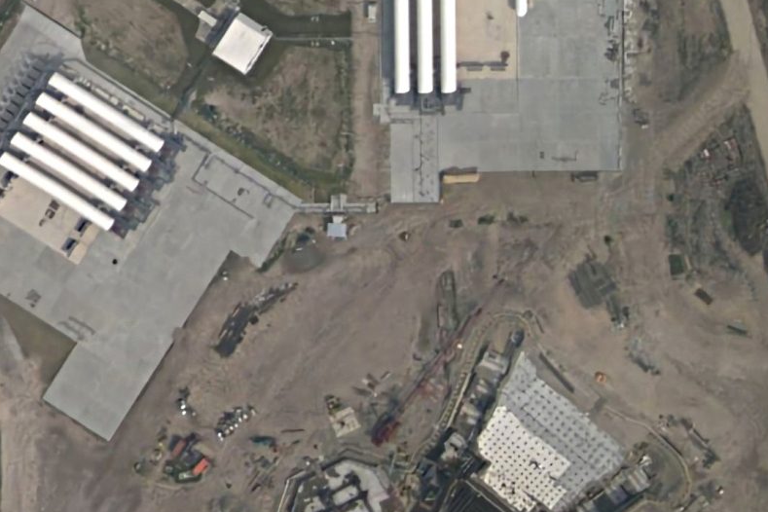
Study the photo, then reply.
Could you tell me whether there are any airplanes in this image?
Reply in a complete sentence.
No, no airplane is visible in the scene.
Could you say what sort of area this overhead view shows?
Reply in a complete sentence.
The area seen from above is an industrial area.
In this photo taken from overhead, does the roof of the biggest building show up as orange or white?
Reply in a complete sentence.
The roof of the biggest building is white.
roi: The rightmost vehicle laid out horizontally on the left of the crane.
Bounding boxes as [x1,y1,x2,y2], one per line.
[252,433,277,446]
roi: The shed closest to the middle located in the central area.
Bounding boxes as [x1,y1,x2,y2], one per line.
[326,222,347,241]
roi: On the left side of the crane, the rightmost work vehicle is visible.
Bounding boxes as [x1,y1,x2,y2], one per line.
[325,392,341,412]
